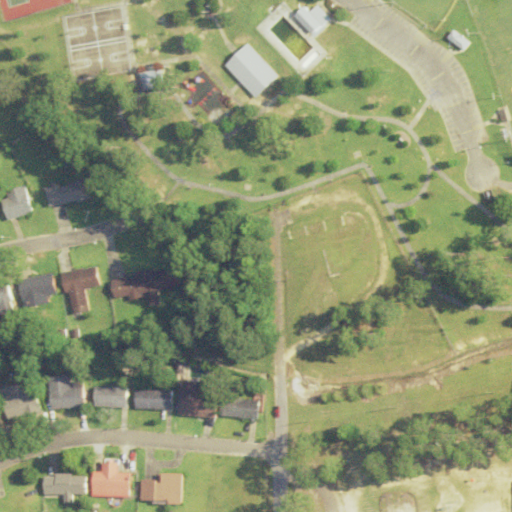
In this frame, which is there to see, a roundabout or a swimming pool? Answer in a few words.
swimming pool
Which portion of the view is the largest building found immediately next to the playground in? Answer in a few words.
top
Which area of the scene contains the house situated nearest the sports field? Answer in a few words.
bottom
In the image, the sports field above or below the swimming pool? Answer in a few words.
below it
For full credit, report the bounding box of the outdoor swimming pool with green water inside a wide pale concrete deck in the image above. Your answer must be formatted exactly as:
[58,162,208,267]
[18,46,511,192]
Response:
[258,2,327,76]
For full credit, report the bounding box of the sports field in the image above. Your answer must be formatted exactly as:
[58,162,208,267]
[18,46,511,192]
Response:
[284,192,386,365]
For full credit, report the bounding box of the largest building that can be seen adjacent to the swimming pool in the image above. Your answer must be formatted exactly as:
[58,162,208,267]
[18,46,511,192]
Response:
[224,44,278,98]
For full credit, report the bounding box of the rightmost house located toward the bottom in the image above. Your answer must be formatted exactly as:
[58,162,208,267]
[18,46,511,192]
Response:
[219,398,262,418]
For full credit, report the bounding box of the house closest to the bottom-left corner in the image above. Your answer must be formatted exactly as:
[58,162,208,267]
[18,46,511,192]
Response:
[42,475,88,502]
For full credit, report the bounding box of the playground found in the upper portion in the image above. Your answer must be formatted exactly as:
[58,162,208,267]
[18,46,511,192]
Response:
[186,72,225,114]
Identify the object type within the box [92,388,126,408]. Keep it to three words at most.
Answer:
house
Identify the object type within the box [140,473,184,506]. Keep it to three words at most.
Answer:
house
